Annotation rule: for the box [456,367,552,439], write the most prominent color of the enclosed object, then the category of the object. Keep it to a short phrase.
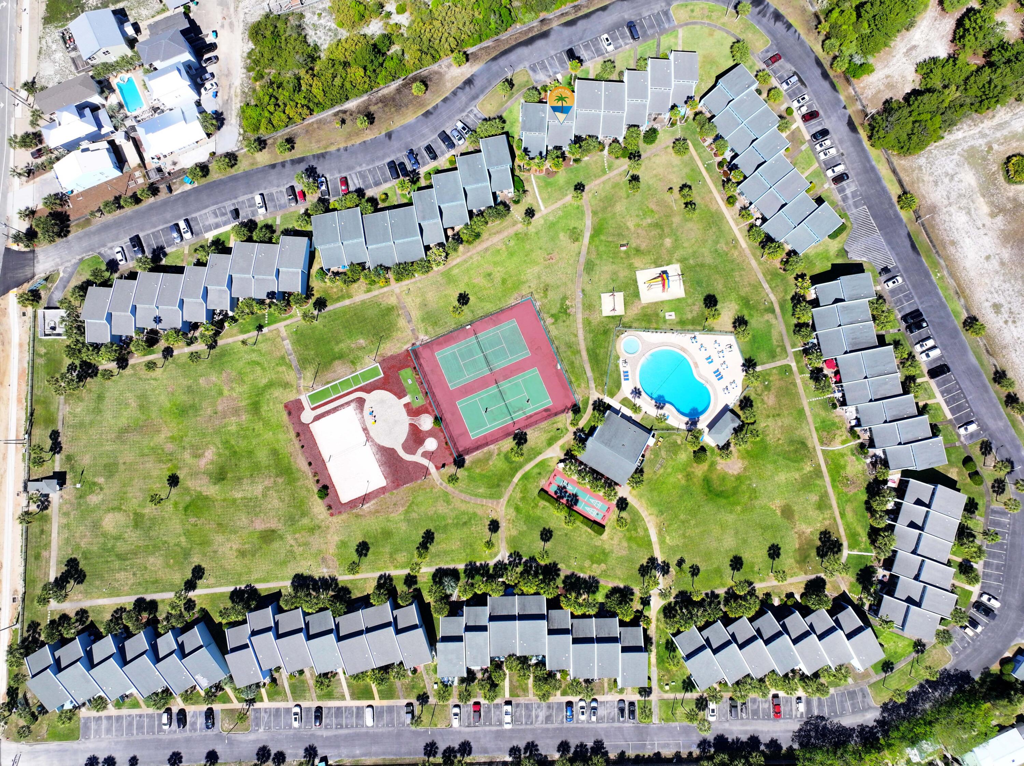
green tennis court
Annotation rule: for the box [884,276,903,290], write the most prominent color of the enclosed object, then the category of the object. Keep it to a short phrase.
white car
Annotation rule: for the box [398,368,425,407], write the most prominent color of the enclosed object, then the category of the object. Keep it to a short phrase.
green sports court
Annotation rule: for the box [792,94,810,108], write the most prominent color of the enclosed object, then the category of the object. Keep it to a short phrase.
white car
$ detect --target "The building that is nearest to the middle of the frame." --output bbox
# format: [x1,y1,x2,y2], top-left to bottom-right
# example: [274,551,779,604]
[577,410,655,486]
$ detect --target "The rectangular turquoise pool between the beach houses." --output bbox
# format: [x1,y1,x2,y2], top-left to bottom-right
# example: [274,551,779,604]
[115,75,146,113]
